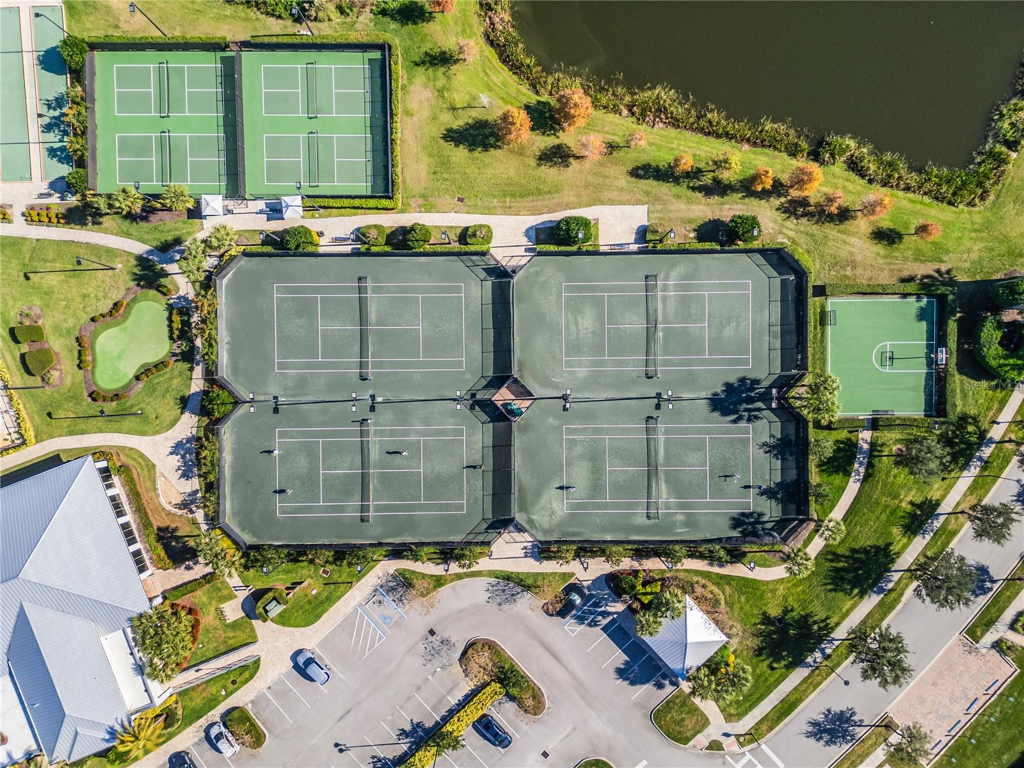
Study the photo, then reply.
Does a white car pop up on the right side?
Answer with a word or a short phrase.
No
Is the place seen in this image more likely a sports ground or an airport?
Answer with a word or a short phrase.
sports ground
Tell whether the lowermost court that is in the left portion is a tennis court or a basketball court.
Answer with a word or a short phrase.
tennis court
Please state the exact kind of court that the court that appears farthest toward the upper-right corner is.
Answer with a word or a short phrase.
basketball court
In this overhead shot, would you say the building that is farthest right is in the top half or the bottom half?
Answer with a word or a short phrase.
bottom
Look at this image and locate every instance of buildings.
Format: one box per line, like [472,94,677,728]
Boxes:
[642,592,729,680]
[0,454,171,766]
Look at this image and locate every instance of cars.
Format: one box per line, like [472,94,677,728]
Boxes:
[170,749,198,768]
[476,712,509,749]
[296,648,332,685]
[555,585,591,620]
[207,721,240,759]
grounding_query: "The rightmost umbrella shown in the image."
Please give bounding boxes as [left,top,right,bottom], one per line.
[507,402,522,417]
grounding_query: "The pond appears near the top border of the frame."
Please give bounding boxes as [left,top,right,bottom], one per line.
[509,0,1024,182]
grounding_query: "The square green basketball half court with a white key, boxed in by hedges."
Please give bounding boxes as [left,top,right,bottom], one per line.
[827,297,936,417]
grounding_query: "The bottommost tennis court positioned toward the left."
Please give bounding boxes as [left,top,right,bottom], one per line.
[225,399,515,545]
